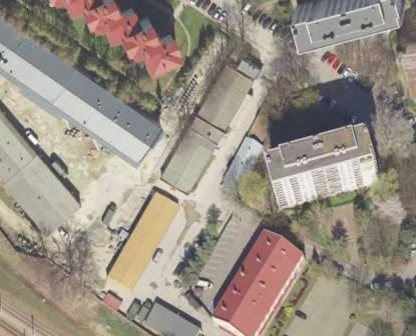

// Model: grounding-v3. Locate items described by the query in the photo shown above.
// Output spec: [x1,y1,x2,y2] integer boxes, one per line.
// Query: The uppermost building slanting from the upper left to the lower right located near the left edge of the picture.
[0,21,165,169]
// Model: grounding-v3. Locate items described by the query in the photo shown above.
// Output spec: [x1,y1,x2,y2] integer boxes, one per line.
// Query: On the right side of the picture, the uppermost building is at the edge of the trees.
[292,0,402,62]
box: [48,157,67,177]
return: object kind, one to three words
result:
vehicle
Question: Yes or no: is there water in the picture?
No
